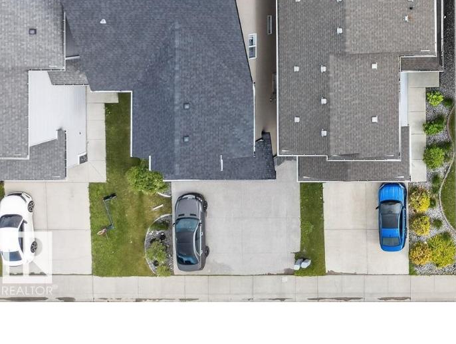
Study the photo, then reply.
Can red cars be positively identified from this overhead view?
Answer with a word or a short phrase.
No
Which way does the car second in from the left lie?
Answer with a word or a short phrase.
vertically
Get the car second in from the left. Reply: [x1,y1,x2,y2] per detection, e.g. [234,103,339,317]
[170,190,210,270]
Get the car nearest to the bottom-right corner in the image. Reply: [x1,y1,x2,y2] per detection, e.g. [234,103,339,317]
[374,181,409,252]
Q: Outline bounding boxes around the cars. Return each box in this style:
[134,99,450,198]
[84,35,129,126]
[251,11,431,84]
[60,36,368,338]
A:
[170,190,210,270]
[0,189,39,266]
[374,181,409,252]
